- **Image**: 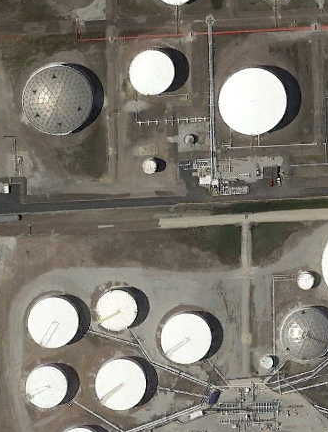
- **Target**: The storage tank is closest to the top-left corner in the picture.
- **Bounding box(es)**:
[22,62,95,137]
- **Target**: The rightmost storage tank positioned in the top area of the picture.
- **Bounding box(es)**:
[217,64,289,138]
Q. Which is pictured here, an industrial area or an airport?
industrial area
